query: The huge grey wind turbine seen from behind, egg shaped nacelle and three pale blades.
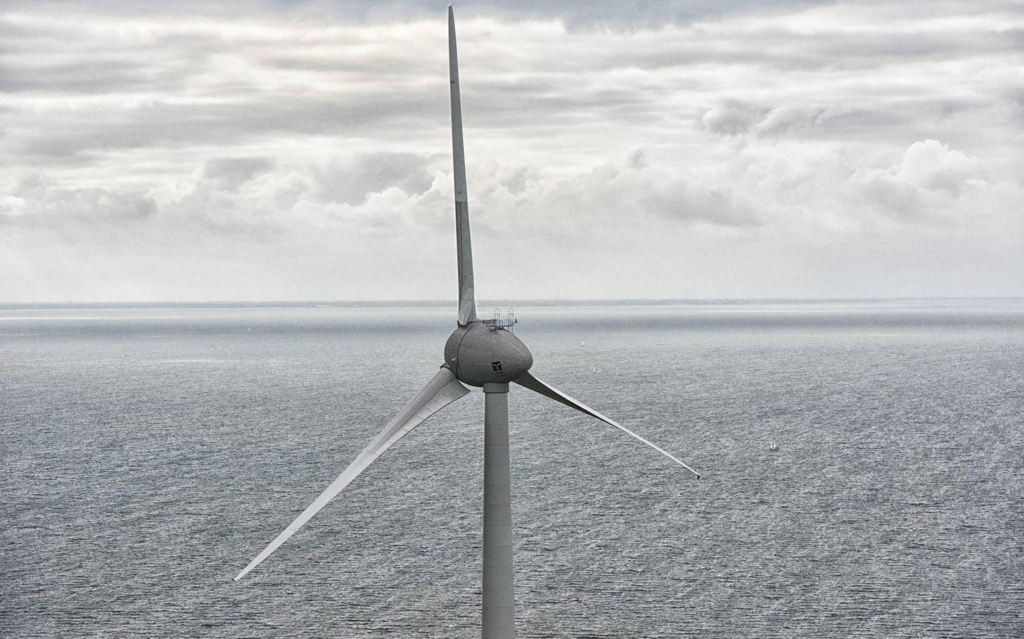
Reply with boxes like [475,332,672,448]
[234,5,700,639]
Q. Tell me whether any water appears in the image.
Yes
